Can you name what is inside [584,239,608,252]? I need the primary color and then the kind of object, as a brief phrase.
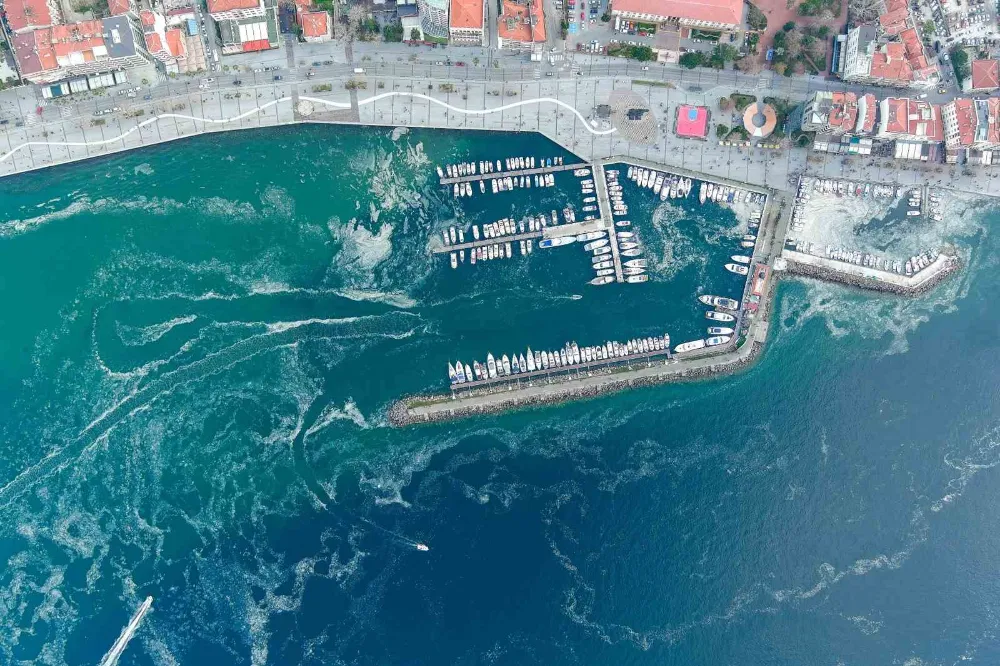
white boat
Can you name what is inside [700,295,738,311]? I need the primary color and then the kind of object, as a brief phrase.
white boat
